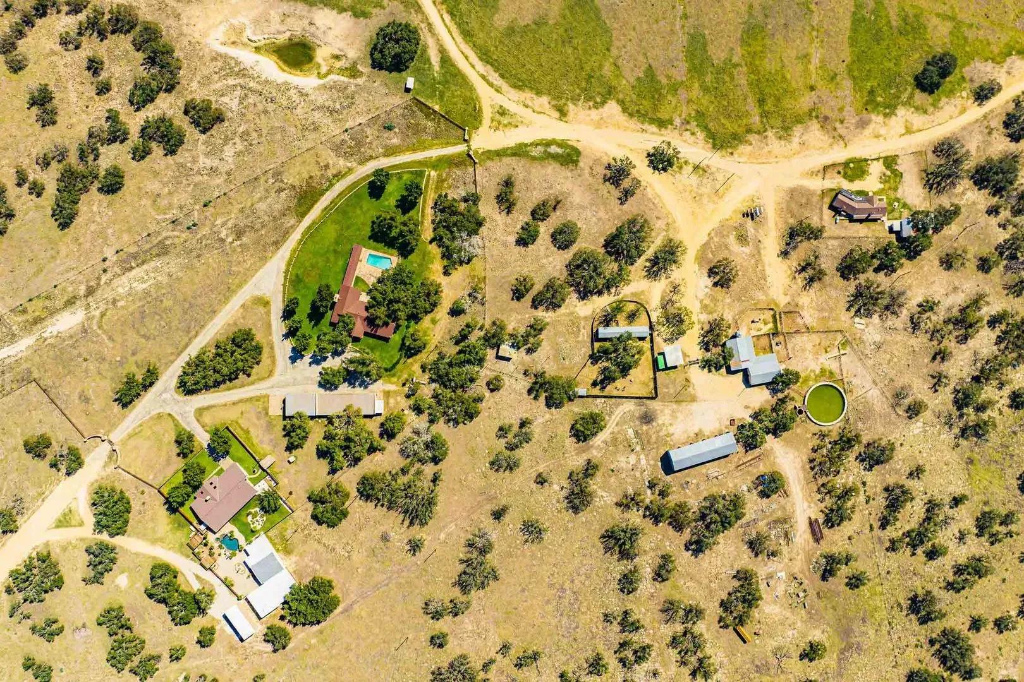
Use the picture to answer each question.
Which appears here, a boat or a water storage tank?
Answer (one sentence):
It is a water storage tank that can be seen here.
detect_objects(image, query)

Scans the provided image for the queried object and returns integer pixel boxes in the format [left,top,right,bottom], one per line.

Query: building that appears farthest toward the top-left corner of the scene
[331,245,395,338]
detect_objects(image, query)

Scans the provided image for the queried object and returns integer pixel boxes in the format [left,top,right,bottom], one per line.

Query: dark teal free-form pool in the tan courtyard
[220,534,239,551]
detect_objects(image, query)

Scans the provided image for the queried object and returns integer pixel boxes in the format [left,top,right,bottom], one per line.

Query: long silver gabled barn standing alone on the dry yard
[666,428,738,471]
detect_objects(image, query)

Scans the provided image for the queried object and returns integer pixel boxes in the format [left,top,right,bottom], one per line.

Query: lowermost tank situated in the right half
[803,383,847,425]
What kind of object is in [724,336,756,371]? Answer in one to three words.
barn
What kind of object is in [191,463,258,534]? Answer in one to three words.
house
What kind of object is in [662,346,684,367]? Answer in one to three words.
shed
